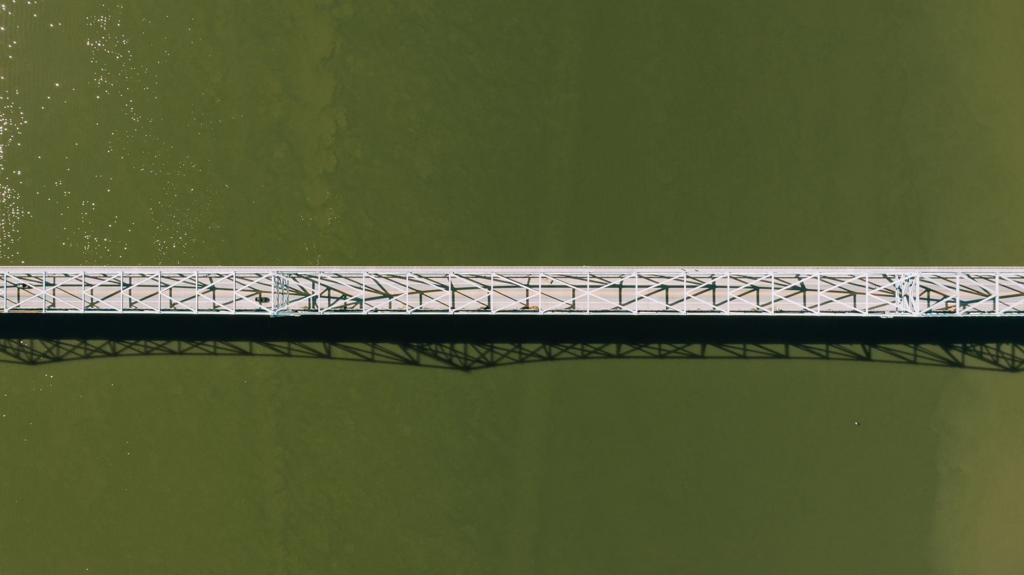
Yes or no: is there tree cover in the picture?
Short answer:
No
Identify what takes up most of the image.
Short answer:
water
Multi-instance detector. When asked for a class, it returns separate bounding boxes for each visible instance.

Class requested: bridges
[0,265,1024,319]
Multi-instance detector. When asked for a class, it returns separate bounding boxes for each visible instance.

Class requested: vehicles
[255,297,270,303]
[16,283,30,289]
